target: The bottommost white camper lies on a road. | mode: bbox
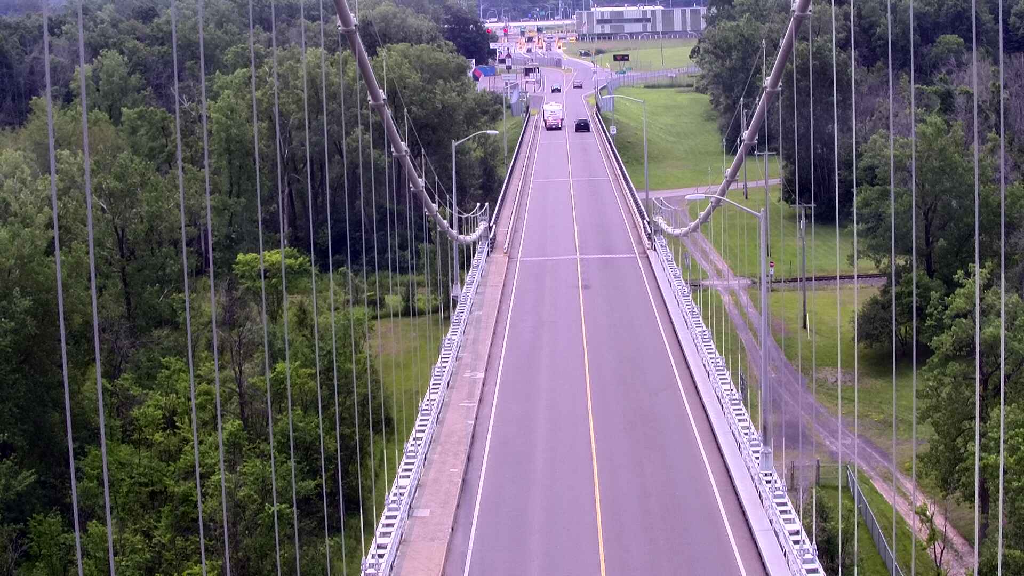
[542,99,565,130]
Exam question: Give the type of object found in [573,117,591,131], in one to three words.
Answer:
car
